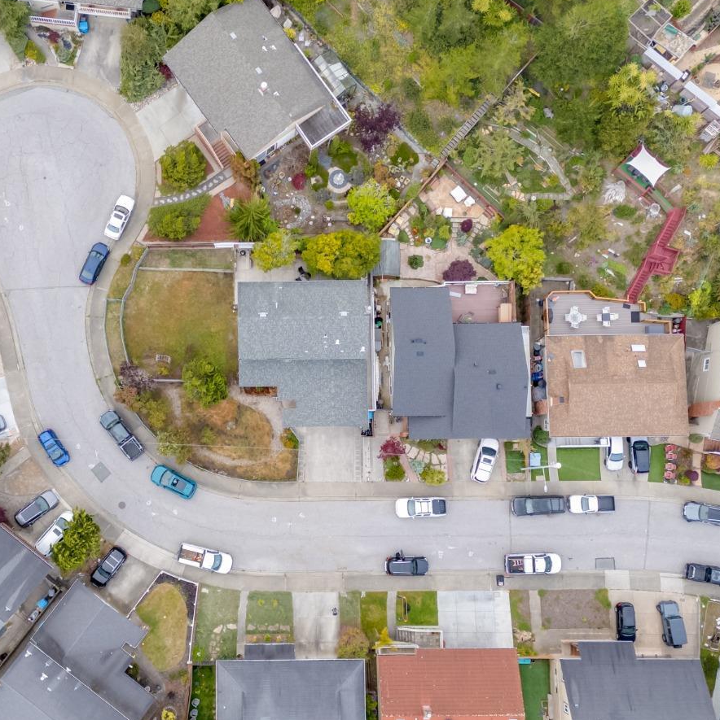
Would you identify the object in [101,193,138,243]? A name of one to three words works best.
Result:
car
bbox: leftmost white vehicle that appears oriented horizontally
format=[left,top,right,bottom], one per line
[175,541,234,576]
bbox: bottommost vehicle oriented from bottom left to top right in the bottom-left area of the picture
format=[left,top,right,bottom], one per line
[88,541,131,591]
